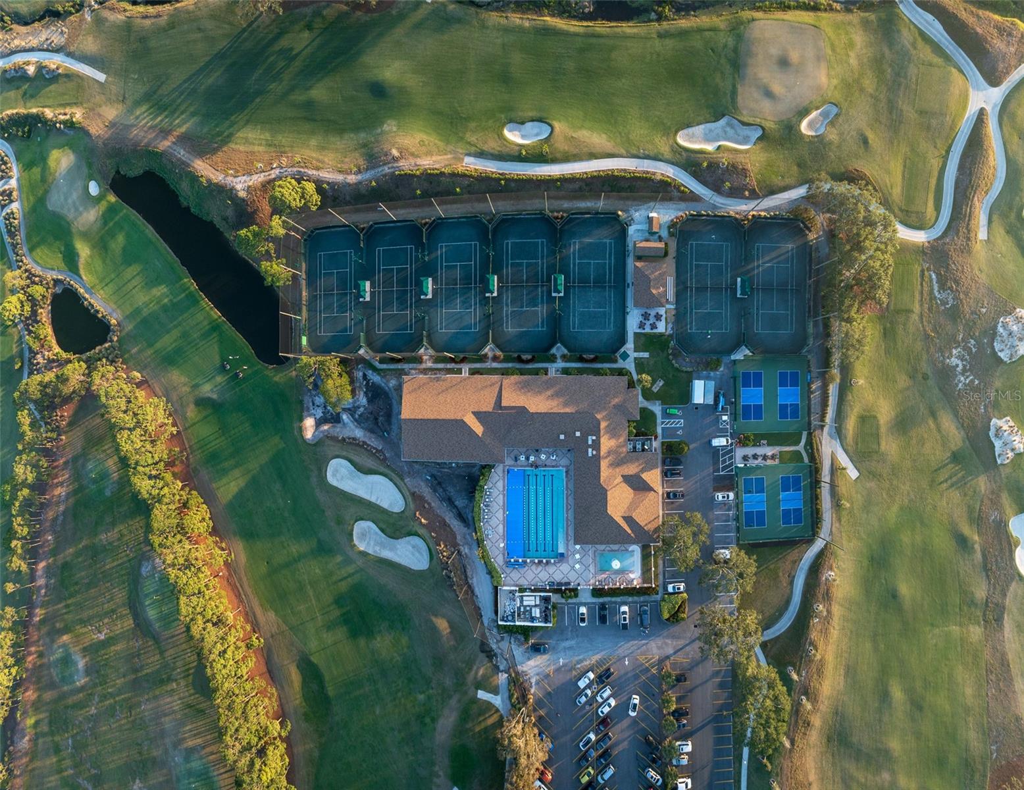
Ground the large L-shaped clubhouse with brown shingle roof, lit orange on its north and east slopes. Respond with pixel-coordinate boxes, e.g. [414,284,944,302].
[401,376,660,544]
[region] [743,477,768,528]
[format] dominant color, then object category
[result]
blue sports court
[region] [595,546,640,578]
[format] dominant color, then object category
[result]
blue swimming pool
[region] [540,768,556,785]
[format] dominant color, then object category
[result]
red car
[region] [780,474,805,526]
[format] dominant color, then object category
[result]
blue sports court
